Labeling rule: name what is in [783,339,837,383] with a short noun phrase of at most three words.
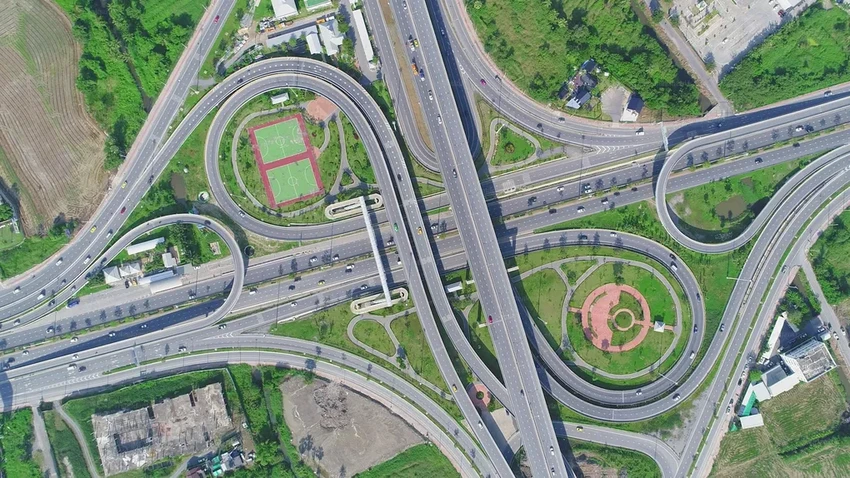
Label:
building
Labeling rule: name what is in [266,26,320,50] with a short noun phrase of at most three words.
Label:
shed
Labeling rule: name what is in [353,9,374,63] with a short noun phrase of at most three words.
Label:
shed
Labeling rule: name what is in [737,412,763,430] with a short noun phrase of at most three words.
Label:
building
